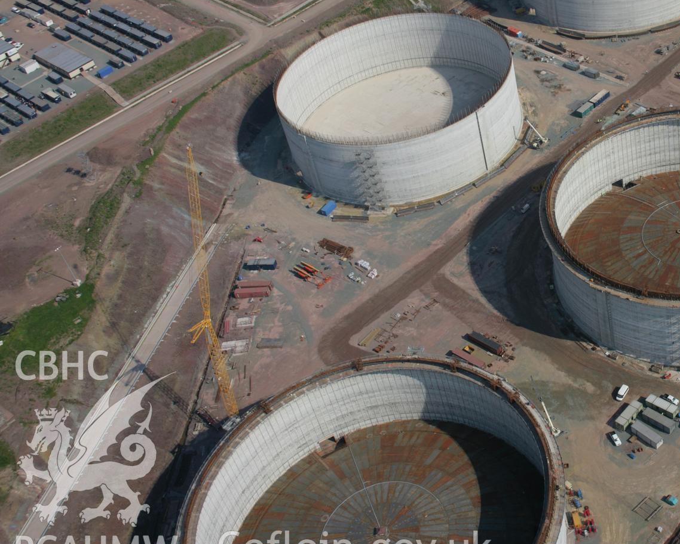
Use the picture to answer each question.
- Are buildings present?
Yes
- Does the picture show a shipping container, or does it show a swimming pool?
shipping container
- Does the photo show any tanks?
Yes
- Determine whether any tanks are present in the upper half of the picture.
Yes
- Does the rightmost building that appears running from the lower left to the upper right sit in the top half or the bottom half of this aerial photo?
bottom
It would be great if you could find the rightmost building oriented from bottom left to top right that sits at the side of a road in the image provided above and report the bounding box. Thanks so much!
[613,398,644,435]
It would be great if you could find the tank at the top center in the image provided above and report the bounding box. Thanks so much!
[274,7,525,208]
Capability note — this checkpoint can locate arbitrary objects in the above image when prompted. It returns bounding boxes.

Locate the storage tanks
[546,111,680,367]
[178,354,567,544]
[274,7,525,208]
[520,0,680,36]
